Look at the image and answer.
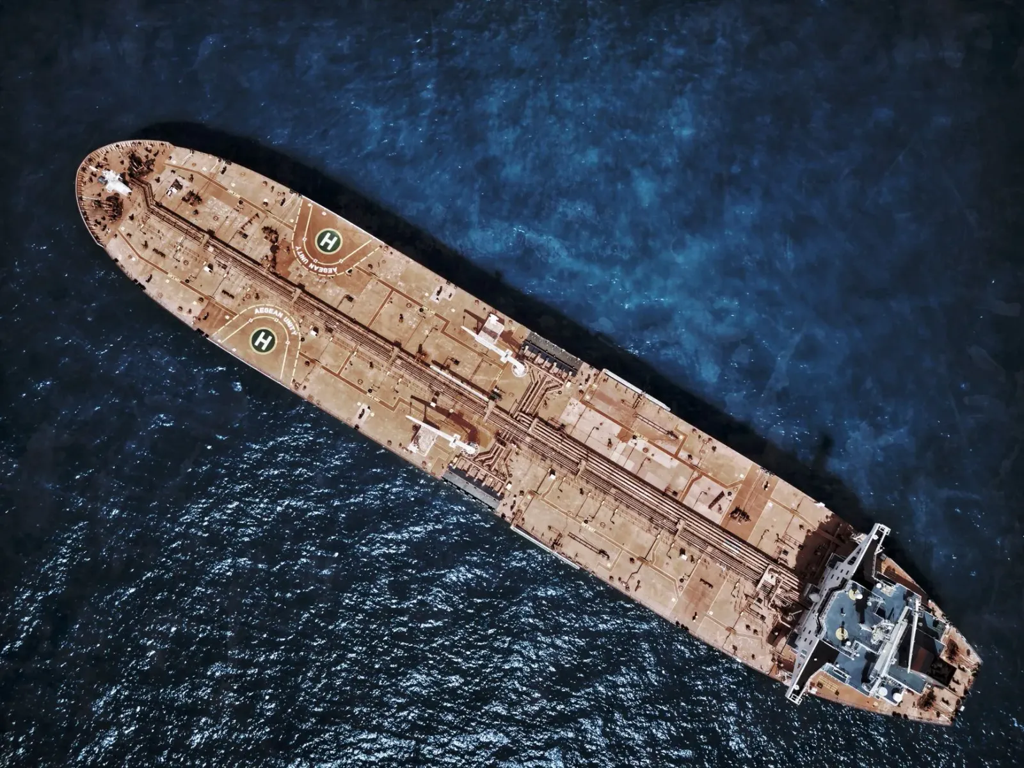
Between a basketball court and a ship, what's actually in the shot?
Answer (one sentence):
This aerial view contains a ship.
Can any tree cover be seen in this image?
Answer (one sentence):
No, no tree cover is visible.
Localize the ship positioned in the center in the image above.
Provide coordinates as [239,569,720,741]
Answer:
[76,140,984,725]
